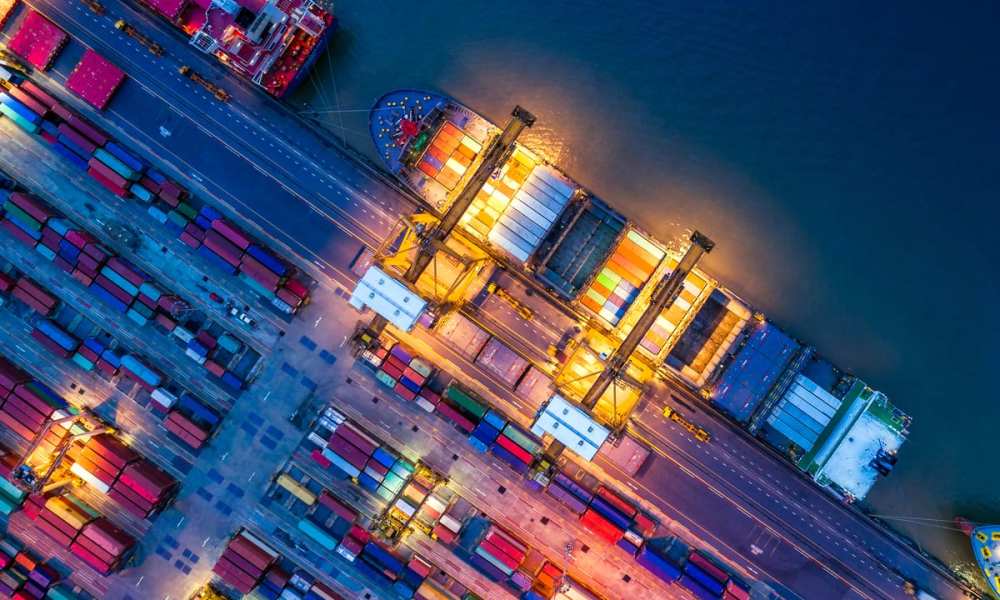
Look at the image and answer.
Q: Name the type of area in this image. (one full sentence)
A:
The area seen from above is a port.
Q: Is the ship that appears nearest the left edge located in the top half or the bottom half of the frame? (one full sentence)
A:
The ship that appears nearest the left edge is in the top half of the image.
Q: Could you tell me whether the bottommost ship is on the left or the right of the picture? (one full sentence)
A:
It is on the right.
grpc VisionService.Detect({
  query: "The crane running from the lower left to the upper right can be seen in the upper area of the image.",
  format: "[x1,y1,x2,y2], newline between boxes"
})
[351,105,537,347]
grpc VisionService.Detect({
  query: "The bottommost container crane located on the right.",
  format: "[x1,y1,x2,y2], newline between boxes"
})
[528,231,716,470]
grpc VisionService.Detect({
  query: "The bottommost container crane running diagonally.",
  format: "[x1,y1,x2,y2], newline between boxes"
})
[368,456,451,554]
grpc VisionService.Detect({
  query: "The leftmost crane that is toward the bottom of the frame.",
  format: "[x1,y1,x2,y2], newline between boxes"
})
[4,400,122,497]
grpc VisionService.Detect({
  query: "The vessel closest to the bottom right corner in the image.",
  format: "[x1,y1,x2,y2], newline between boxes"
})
[941,517,1000,598]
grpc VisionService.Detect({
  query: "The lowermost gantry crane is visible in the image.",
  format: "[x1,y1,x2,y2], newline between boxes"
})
[168,568,233,600]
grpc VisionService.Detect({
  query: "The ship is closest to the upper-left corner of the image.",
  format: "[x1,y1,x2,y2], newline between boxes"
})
[145,0,337,98]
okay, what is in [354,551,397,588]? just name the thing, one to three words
shipping container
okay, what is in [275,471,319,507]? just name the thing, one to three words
shipping container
